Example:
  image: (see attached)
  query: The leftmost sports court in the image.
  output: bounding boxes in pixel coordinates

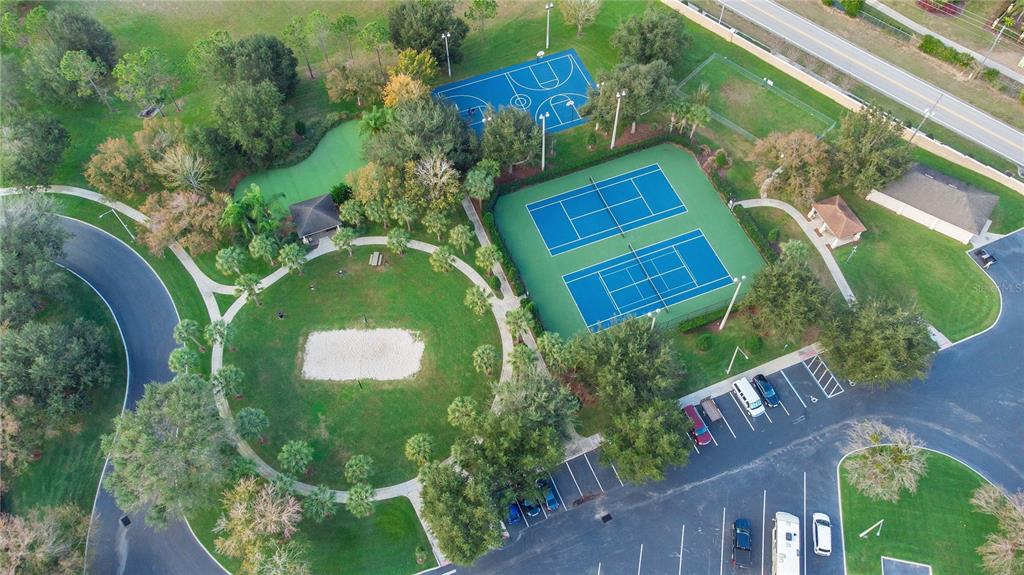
[301,315,424,389]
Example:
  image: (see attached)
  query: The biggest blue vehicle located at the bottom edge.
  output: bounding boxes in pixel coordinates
[733,518,753,570]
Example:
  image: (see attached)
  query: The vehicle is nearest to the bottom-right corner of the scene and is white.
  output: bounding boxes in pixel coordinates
[813,514,833,556]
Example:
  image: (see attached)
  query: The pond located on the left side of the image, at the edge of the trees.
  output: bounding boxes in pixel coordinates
[235,121,370,208]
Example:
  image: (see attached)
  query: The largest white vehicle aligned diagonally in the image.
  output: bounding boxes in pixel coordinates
[732,375,765,418]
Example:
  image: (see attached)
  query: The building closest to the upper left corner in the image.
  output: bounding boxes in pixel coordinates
[288,192,343,247]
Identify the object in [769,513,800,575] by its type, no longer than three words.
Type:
camper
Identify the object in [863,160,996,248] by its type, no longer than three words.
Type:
building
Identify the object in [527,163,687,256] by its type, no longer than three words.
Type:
tennis court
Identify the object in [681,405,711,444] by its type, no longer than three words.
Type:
car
